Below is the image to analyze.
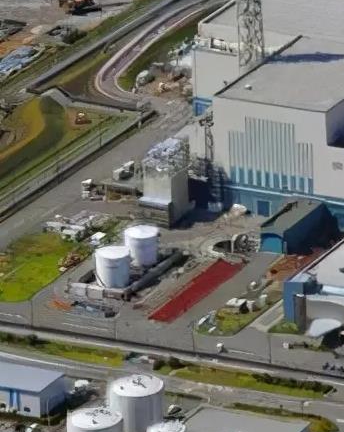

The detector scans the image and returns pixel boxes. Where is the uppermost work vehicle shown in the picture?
[68,106,87,122]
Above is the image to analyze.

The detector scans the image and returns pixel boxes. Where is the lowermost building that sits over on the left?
[0,360,69,417]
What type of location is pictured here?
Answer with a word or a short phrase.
industrial area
